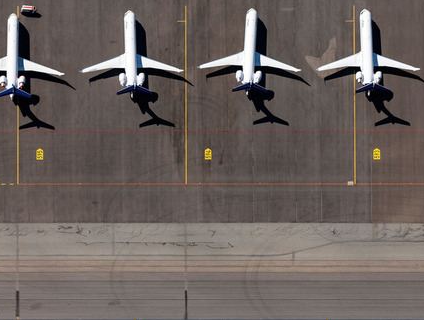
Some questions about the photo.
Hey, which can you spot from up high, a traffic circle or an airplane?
airplane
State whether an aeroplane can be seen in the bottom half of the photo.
No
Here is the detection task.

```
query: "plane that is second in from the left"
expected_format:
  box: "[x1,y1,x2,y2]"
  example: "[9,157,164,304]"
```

[81,10,182,96]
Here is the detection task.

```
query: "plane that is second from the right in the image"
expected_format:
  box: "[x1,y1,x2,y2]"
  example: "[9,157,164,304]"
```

[198,8,300,94]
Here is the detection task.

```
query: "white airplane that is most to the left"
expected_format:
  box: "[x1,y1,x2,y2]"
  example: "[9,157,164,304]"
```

[0,13,63,99]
